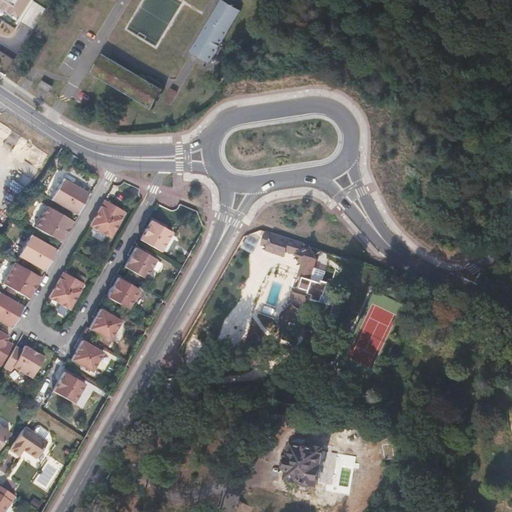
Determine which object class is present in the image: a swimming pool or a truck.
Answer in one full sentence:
There is a swimming pool in the scene.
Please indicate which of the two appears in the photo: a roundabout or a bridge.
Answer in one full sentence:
Looking from above, you can make out a roundabout.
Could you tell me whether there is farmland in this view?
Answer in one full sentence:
No, there is no farmland in the image.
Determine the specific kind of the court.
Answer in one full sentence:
It turns out the court is a tennis court.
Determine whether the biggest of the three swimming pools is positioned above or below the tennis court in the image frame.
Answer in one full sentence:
The biggest of the three swimming pools is located below the tennis court in this view.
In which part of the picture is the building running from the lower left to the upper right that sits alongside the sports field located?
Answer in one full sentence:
The building running from the lower left to the upper right that sits alongside the sports field appears toward the top of the photo.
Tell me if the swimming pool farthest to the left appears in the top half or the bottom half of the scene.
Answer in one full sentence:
The swimming pool farthest to the left is in the bottom half of the image.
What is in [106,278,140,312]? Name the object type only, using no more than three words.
house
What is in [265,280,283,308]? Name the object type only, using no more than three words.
swimming pool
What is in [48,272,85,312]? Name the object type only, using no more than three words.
house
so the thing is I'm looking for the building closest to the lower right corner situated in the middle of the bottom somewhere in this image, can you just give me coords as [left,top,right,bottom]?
[278,442,325,488]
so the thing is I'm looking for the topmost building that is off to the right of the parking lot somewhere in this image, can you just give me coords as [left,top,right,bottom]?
[188,0,242,59]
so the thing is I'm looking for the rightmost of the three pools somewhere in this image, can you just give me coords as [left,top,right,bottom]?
[326,453,359,496]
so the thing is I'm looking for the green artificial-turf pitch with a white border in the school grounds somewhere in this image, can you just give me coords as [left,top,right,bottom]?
[128,0,184,47]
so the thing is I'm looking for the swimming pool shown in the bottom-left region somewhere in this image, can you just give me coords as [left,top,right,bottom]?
[32,456,64,492]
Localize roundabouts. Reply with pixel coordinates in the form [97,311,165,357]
[186,96,366,219]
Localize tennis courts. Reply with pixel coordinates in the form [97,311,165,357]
[348,294,402,370]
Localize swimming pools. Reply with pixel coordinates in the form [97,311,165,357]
[326,453,359,496]
[265,280,283,308]
[32,456,64,492]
